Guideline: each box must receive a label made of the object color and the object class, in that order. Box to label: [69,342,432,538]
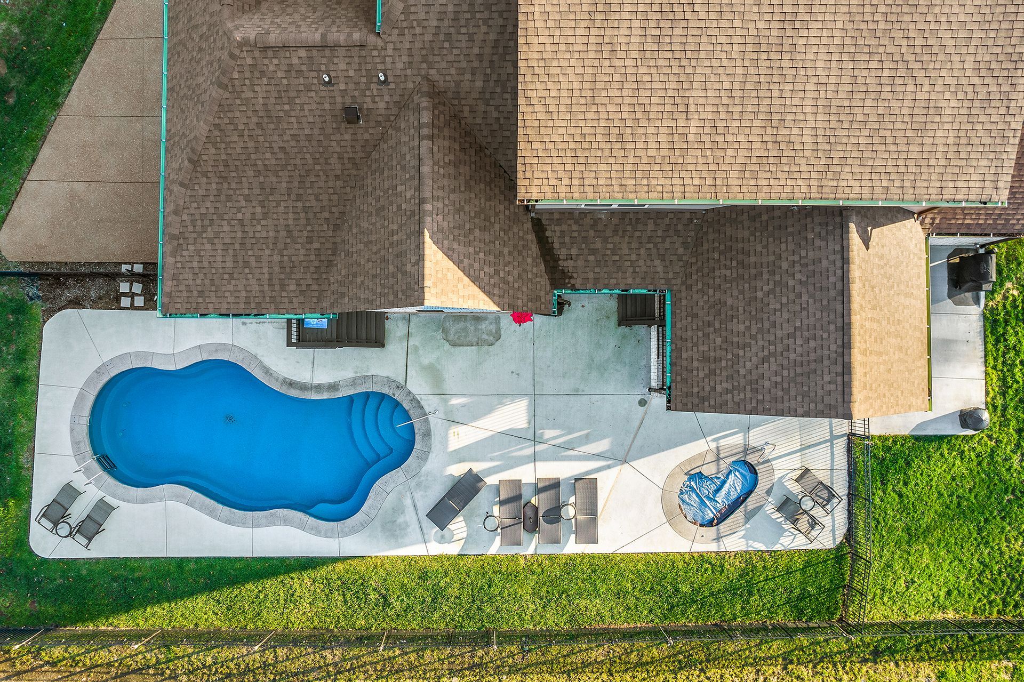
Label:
blue swimming pool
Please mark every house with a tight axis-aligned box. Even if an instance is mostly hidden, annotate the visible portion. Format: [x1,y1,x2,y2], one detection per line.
[159,0,1024,419]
